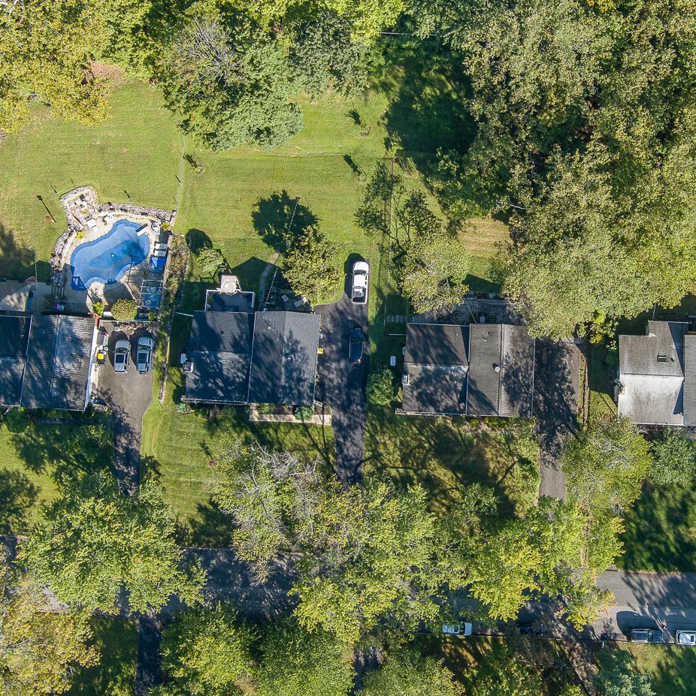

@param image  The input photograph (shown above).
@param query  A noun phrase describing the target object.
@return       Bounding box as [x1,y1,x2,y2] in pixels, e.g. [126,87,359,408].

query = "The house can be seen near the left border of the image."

[0,313,107,413]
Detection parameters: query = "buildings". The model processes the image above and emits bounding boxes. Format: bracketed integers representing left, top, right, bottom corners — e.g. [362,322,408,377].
[0,313,107,413]
[610,320,696,428]
[401,322,535,419]
[182,309,324,407]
